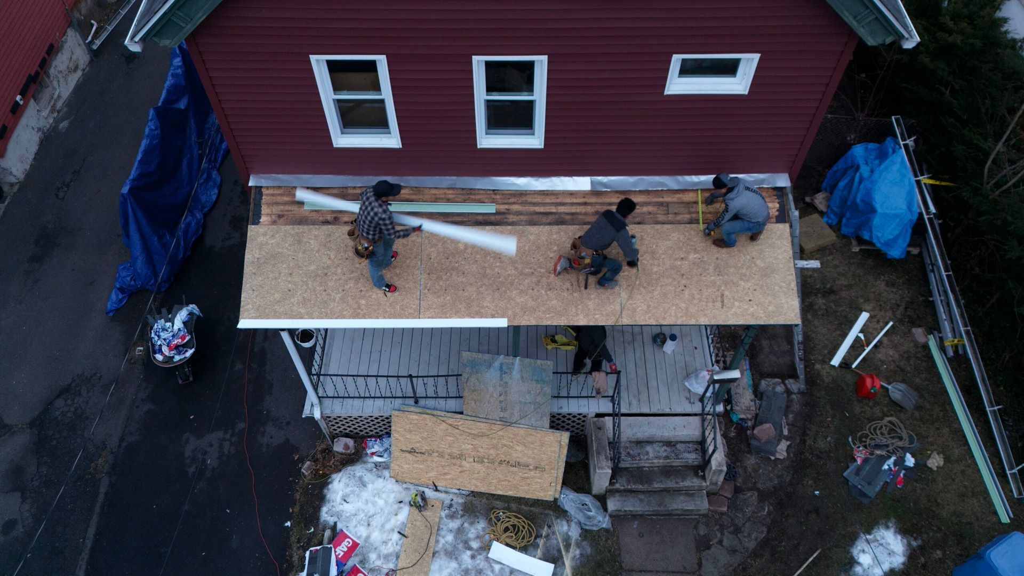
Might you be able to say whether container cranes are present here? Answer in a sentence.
No, this view has no container crane in it.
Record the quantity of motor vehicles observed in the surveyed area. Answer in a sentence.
Not a single motor vehicle can be seen.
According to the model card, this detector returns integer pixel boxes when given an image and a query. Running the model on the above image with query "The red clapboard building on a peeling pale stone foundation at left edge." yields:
[0,0,93,216]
